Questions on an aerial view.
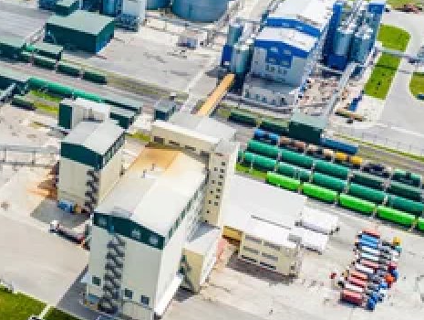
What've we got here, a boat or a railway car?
railway car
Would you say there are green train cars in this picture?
Yes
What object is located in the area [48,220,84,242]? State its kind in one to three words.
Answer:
truck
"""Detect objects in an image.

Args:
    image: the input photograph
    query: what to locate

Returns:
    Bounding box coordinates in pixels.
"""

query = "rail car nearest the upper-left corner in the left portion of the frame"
[21,52,43,66]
